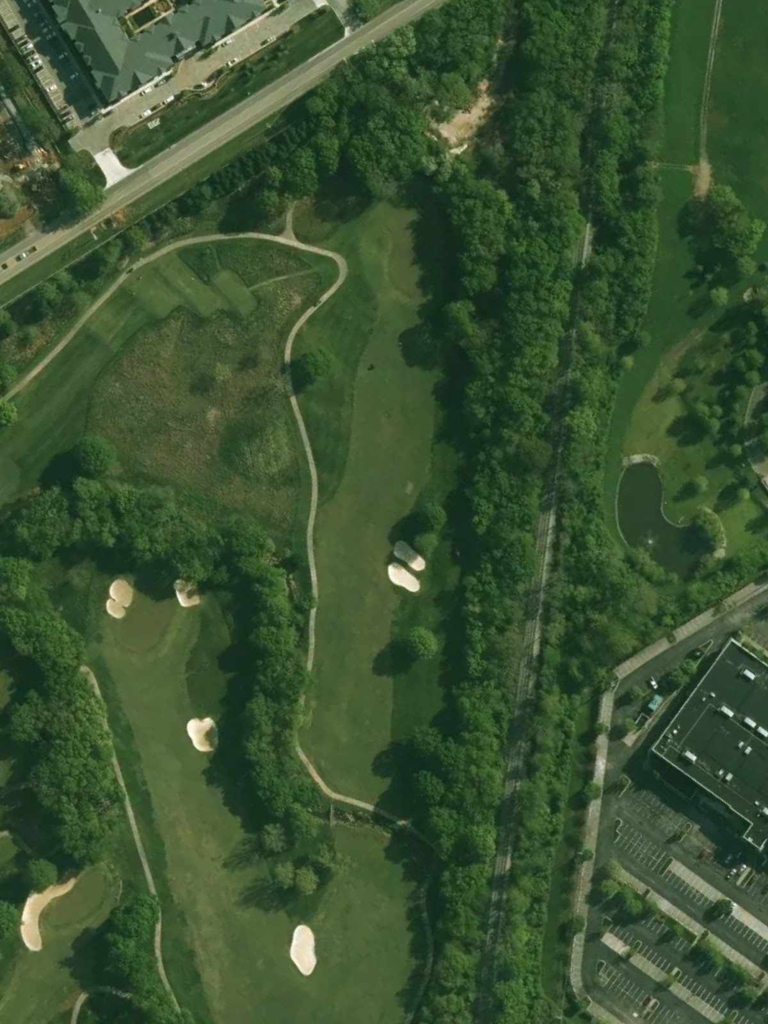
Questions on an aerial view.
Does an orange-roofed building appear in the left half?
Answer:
No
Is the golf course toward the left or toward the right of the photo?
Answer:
left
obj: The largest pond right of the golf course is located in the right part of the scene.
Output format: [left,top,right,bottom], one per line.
[617,462,718,581]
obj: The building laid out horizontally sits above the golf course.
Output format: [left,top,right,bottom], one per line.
[48,0,275,100]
